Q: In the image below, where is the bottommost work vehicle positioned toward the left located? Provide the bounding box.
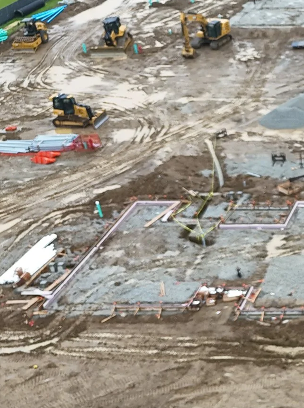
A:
[45,84,110,126]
